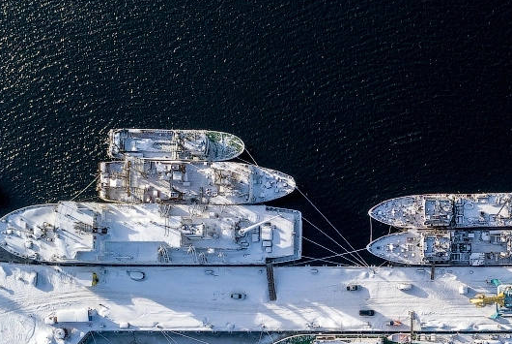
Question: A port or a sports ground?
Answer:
port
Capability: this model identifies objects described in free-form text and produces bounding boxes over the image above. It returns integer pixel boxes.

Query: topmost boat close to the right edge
[370,192,512,230]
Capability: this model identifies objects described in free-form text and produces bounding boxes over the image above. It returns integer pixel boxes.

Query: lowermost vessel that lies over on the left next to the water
[0,199,307,267]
